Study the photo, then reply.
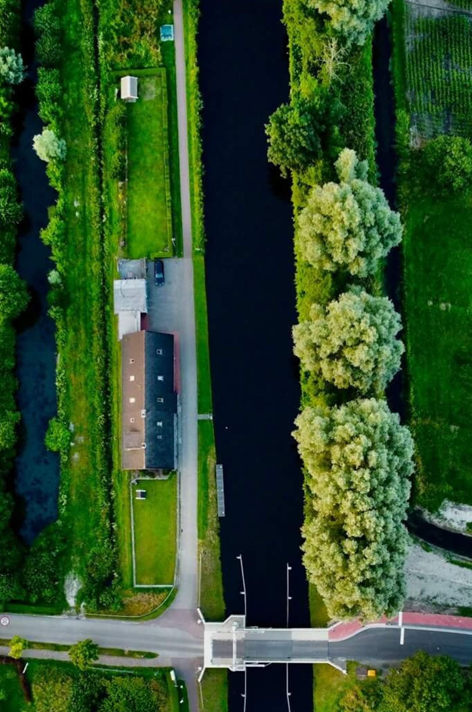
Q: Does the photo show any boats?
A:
No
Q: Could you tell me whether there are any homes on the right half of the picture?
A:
No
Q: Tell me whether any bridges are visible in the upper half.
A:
No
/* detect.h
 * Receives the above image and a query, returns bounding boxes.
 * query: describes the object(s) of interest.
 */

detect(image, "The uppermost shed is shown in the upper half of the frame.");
[121,76,138,106]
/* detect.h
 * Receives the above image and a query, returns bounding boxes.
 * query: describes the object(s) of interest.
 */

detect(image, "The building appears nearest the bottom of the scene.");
[122,329,178,471]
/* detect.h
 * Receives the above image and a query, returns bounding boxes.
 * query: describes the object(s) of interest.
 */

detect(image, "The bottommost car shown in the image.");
[153,260,165,287]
